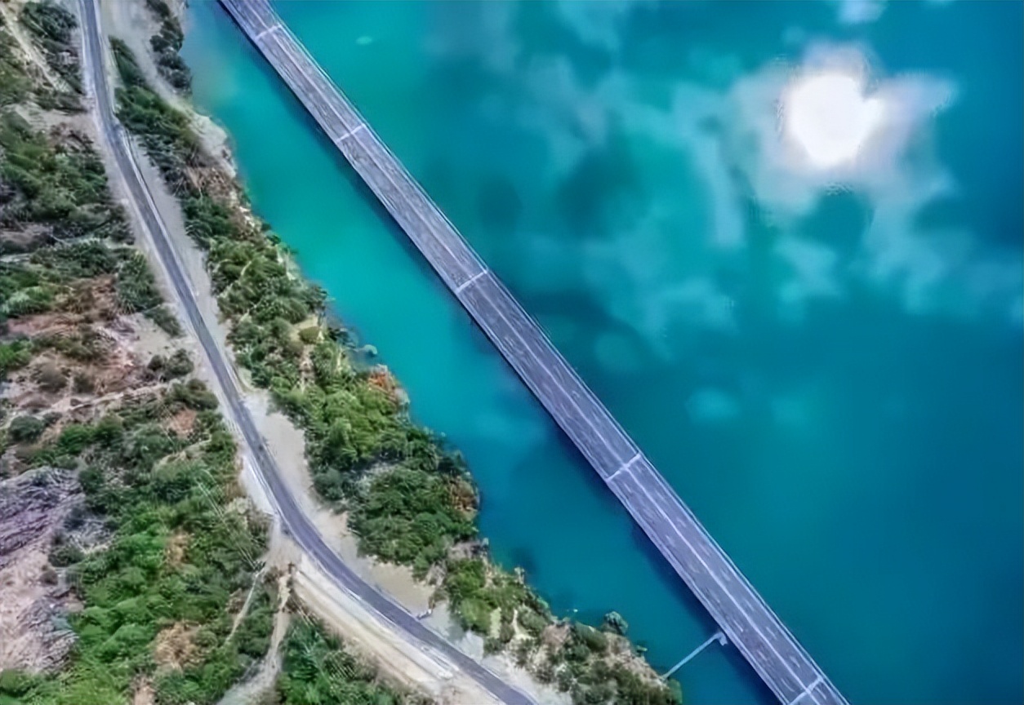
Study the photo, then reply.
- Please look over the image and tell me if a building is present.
No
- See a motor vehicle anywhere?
No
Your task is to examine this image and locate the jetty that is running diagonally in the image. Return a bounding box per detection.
[663,630,731,679]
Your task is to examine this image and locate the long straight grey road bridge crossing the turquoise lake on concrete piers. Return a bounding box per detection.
[223,0,851,705]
